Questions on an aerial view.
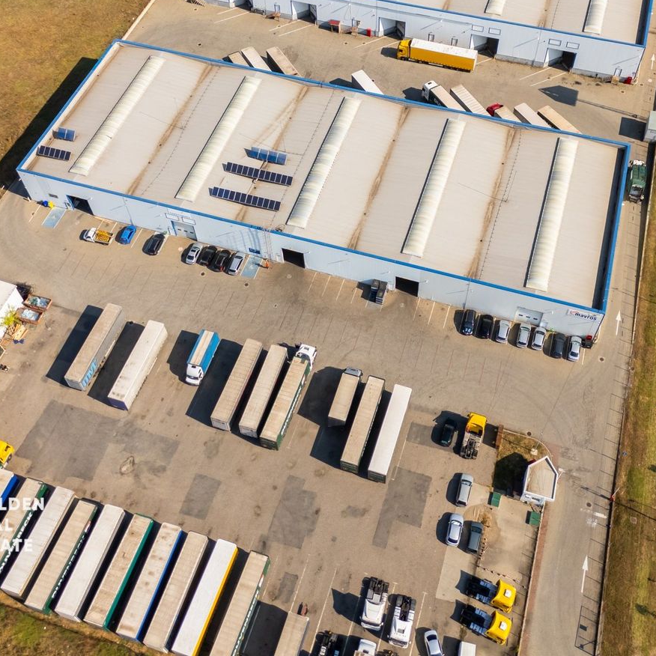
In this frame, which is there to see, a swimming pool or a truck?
truck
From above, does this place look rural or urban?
urban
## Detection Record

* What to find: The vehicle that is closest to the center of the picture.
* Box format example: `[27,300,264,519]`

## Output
[296,340,321,383]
